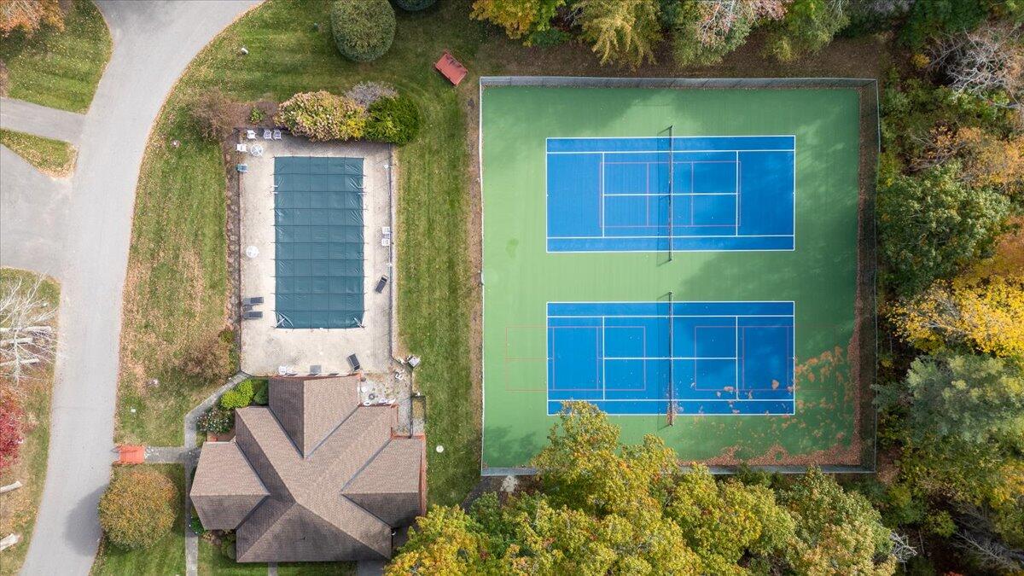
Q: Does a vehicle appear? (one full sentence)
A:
No, there appears to be no vehicle in this shot.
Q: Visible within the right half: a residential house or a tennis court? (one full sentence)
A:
It is a tennis court that can be seen within the right half.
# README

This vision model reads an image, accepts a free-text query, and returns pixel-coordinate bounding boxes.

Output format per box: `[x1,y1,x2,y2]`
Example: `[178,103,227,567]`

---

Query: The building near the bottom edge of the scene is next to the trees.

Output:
[190,372,425,562]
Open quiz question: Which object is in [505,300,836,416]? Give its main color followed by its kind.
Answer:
blue tennis court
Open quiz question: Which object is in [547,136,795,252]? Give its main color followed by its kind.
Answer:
blue tennis court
